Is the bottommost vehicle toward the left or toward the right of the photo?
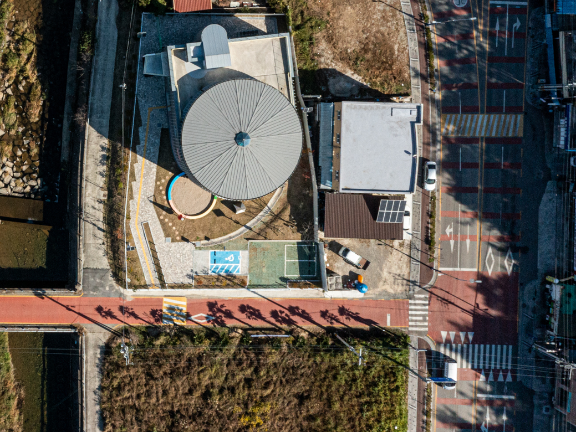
right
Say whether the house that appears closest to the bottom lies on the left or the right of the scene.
right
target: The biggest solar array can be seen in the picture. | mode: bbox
[374,199,407,223]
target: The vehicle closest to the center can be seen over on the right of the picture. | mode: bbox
[337,245,371,271]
